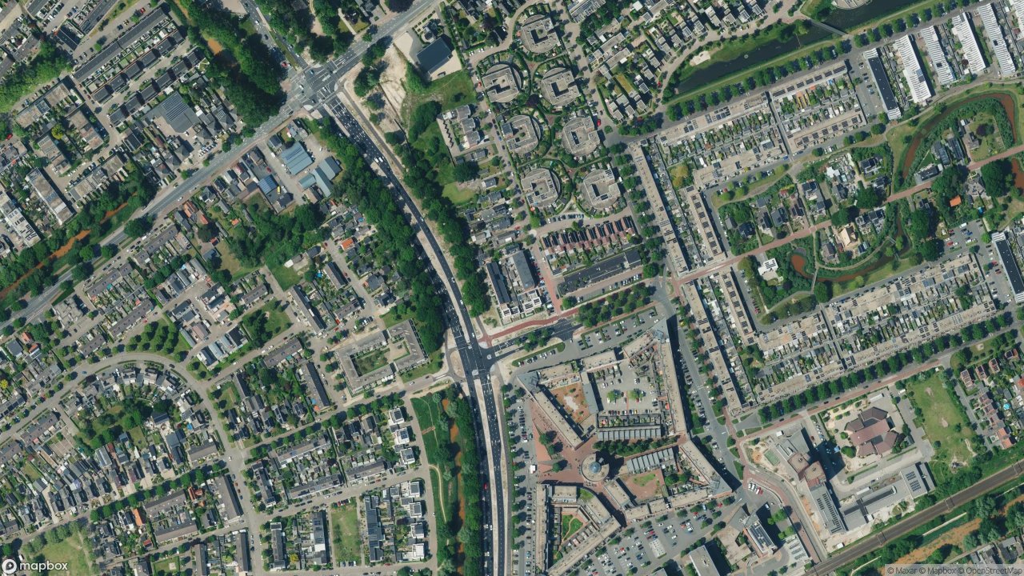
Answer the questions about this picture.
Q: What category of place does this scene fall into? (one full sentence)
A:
This looks like a residential area.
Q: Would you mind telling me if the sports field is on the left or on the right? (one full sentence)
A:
You can find the sports field on the right side of the picture.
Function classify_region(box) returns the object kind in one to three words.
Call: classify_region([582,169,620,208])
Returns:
building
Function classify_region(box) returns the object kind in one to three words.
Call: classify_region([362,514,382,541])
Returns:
house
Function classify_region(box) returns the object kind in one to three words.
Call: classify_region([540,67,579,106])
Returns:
building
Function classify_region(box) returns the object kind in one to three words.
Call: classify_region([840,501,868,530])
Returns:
house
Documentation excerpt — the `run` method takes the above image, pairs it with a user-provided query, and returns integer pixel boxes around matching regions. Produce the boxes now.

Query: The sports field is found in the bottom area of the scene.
[909,372,977,472]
